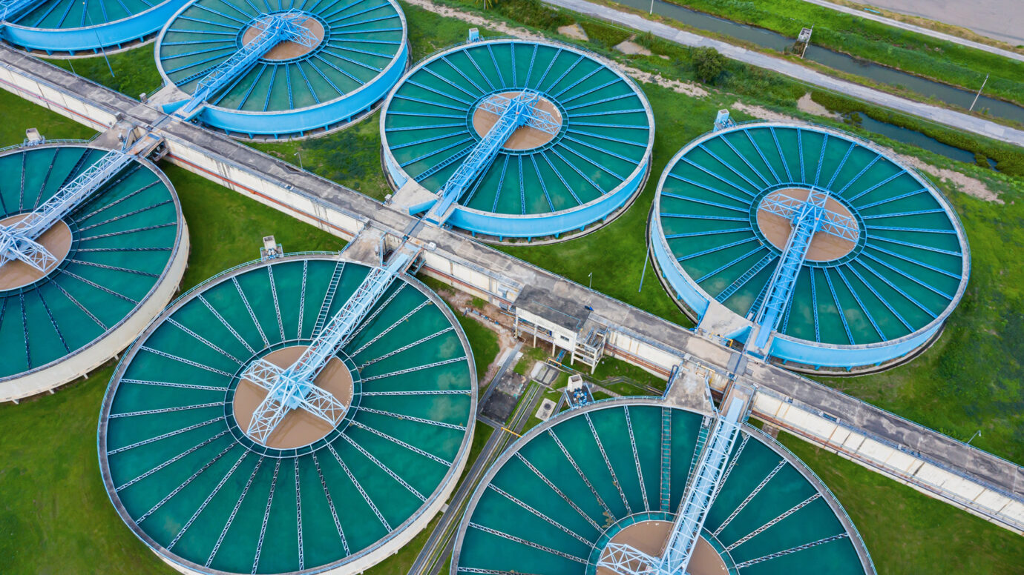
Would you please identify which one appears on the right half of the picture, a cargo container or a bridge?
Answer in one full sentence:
The one visible on the right half of the picture is a bridge.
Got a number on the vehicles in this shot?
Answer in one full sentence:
The picture shows no vehicles.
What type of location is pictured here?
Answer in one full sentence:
This looks like an industrial area.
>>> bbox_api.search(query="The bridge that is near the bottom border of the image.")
[595,398,745,575]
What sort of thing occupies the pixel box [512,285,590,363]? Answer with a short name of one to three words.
building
